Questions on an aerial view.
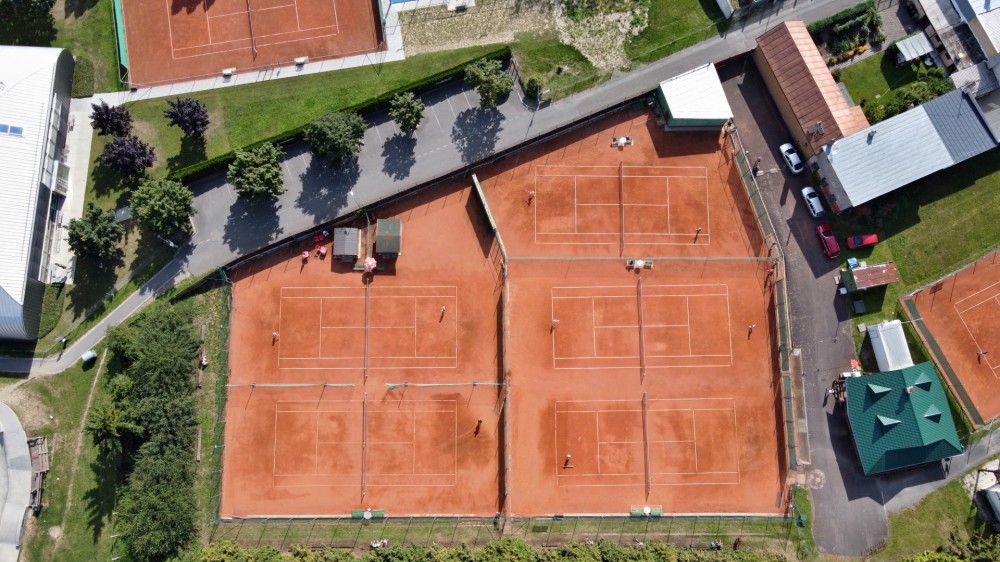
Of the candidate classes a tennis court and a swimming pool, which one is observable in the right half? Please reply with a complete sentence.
There is a tennis court in the right half.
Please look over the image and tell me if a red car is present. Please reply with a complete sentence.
Yes, there's a red car down there.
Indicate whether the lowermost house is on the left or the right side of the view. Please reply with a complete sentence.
The lowermost house is on the right side of the image.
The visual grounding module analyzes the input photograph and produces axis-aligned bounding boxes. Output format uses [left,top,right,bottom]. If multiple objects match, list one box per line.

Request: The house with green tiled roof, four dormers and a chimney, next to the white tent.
[838,361,963,476]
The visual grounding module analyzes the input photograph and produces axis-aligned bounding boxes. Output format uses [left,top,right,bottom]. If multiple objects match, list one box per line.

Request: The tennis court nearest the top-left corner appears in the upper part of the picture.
[121,0,385,88]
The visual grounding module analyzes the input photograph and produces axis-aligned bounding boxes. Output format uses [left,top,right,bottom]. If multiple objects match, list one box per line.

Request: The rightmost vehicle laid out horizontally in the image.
[846,233,878,249]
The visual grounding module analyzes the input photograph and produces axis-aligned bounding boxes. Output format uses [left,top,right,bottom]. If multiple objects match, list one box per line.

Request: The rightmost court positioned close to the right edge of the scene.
[908,248,1000,422]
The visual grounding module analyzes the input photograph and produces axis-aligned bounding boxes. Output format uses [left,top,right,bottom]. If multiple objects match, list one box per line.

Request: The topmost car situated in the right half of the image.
[778,143,804,176]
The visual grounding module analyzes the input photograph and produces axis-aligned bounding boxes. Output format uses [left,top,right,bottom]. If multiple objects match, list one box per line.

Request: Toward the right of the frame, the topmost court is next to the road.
[496,105,773,261]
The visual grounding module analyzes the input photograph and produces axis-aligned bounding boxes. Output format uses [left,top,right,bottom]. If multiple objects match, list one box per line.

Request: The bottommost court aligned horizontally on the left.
[220,385,505,518]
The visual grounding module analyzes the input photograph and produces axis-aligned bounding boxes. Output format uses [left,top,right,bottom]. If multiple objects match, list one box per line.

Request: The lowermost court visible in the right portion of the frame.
[502,384,792,518]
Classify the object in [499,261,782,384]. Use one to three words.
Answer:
tennis court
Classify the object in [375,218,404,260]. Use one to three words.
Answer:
shed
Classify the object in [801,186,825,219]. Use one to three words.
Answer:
car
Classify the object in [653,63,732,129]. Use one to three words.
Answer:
building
